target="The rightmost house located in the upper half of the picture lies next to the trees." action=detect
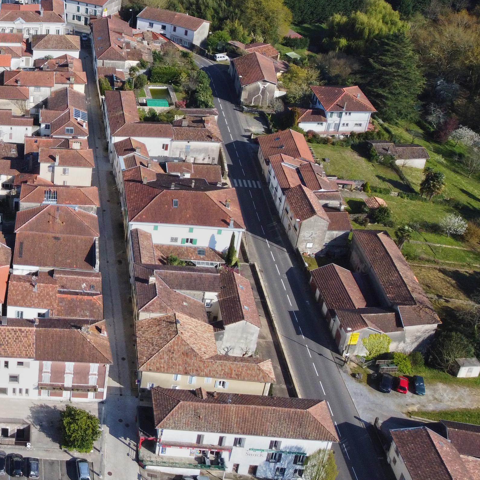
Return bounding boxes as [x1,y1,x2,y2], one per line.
[393,142,433,172]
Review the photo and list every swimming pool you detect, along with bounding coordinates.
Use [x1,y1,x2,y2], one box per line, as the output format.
[143,85,177,108]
